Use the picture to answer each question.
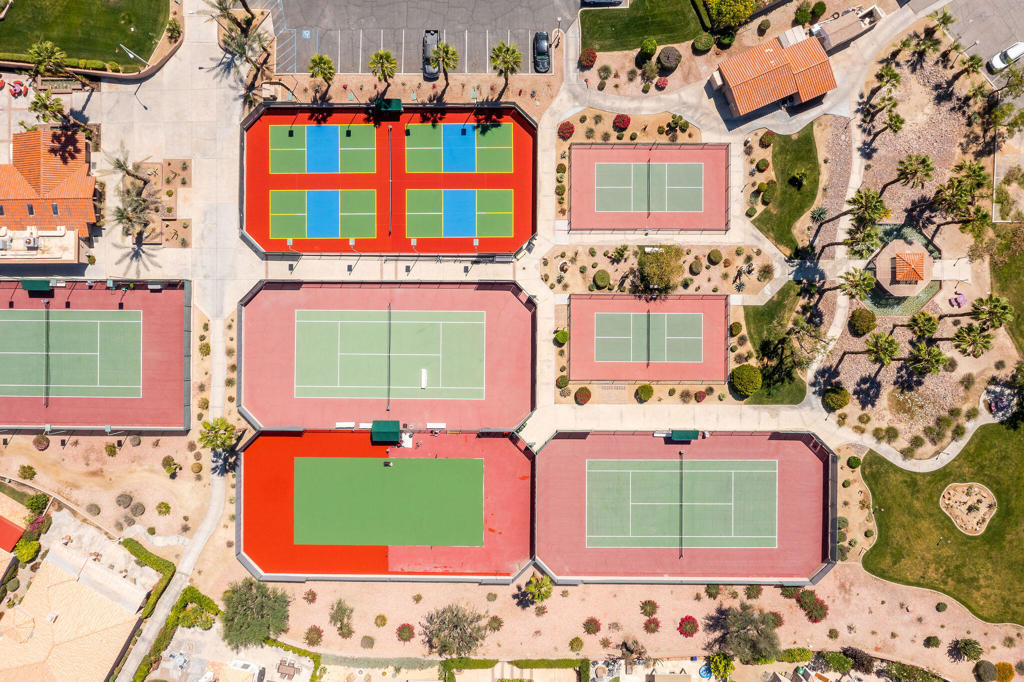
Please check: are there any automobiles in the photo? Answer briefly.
Yes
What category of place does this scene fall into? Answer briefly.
sports ground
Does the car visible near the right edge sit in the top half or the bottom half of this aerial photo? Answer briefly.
top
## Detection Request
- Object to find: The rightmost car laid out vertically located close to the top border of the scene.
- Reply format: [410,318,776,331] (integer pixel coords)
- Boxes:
[533,31,551,72]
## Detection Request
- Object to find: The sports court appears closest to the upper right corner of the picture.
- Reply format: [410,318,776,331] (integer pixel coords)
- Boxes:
[572,145,728,228]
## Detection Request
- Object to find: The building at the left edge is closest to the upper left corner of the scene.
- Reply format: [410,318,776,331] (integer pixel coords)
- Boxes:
[0,127,101,265]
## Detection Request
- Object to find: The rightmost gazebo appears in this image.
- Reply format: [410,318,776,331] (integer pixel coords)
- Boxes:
[877,239,935,296]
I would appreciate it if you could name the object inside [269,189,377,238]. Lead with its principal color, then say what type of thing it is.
green sports court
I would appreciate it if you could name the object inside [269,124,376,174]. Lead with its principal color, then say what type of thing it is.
green sports court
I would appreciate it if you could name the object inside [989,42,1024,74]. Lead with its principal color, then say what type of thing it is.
white car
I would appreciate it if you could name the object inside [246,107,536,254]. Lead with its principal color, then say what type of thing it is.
red sports court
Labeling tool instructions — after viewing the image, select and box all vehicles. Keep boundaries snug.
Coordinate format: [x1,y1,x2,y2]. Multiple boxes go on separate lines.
[989,42,1024,74]
[533,31,551,72]
[421,29,439,79]
[583,0,623,6]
